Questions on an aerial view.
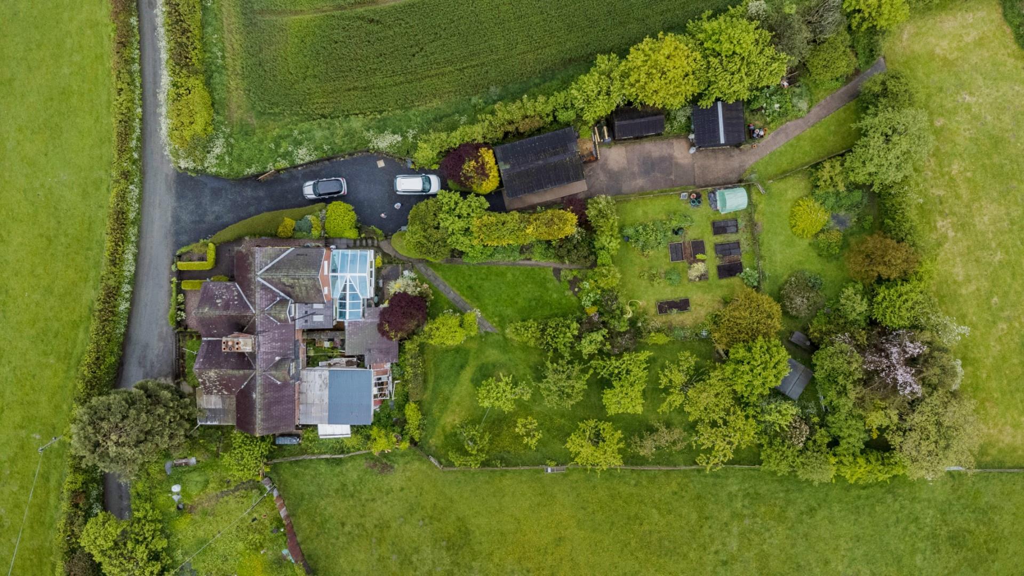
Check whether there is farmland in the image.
Yes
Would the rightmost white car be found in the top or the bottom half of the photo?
top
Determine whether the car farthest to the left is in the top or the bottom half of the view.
top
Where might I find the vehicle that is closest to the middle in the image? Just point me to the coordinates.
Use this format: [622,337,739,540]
[395,173,441,195]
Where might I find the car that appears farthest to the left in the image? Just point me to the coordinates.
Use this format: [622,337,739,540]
[304,177,349,200]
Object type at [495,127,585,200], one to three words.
building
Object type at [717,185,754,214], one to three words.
greenhouse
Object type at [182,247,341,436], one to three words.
house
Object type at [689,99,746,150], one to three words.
shed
